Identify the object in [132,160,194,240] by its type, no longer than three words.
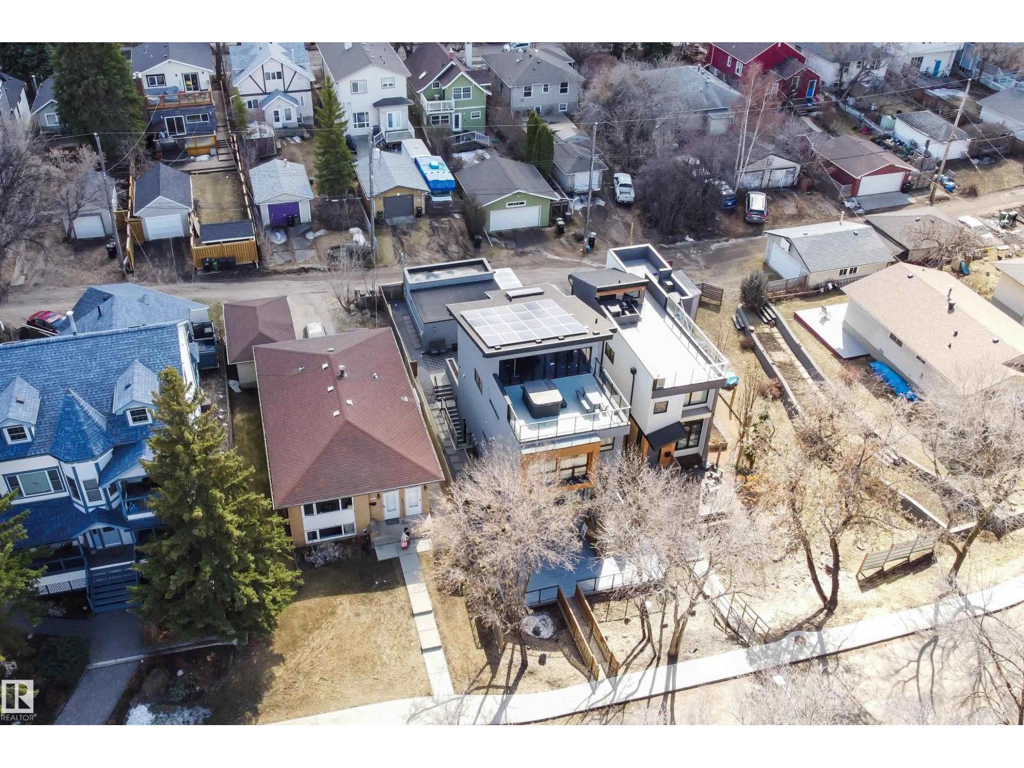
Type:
building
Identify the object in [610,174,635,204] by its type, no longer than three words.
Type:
truck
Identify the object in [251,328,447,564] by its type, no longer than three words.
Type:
house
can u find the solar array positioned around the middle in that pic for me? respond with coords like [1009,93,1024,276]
[460,297,589,345]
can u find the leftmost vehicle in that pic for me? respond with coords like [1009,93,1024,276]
[15,297,50,335]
